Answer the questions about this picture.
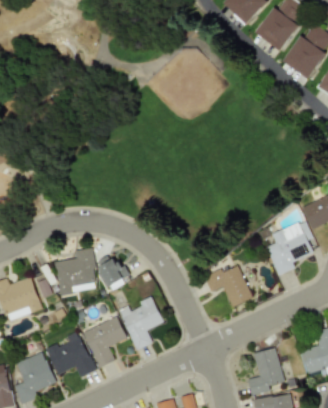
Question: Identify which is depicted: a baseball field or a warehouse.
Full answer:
There is a baseball field in the scene.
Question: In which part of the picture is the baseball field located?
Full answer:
The baseball field is located in the center region of the scene.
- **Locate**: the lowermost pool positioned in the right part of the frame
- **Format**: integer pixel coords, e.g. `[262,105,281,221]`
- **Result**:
[260,266,274,288]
